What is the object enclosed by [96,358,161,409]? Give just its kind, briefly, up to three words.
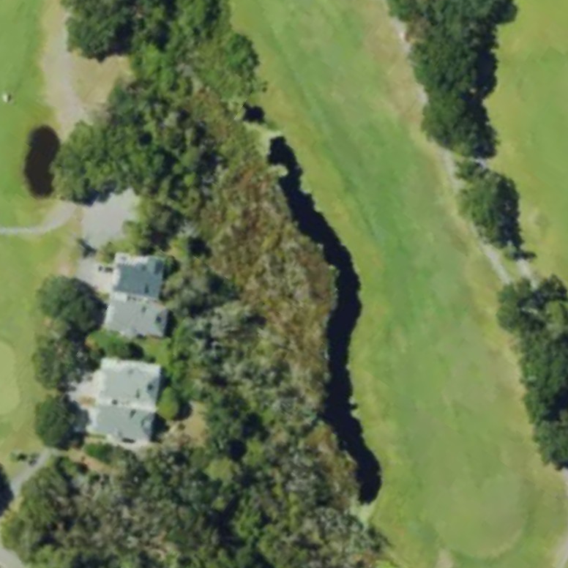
house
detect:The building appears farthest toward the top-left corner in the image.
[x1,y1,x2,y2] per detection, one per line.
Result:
[107,254,165,303]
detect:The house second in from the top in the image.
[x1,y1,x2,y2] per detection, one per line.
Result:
[104,302,168,339]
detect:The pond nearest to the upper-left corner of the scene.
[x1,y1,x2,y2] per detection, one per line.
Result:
[25,125,61,198]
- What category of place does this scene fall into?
golf course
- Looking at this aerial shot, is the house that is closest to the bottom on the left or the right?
left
